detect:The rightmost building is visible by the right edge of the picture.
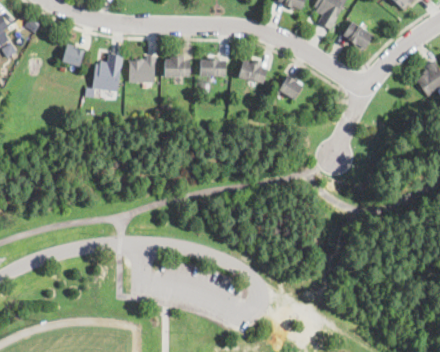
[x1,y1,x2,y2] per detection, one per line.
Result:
[420,60,440,96]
